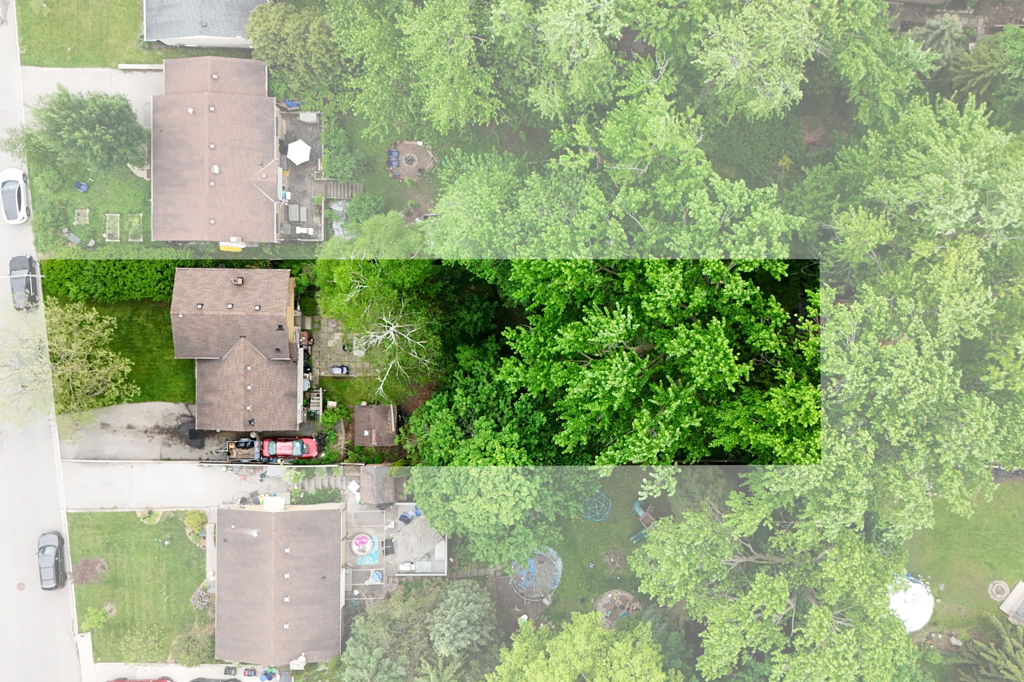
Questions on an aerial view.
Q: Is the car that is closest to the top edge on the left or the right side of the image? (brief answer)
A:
left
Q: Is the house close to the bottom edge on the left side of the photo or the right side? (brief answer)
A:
left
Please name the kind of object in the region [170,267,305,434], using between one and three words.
house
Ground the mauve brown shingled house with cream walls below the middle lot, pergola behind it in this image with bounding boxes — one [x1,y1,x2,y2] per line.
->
[215,497,353,670]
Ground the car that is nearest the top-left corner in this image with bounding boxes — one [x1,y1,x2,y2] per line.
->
[0,167,33,225]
